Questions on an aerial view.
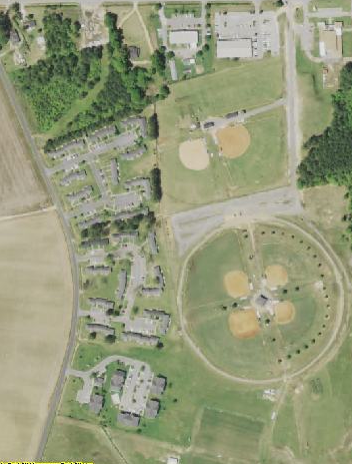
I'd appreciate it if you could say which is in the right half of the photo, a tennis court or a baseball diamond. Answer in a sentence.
Looking in the right half of the photo, you will find a baseball diamond.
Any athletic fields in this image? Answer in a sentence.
Yes, the image includes an athletic field.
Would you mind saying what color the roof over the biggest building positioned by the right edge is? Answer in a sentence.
The roof over the biggest building positioned by the right edge appears white.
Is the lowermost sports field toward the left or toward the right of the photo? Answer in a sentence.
You can find the lowermost sports field on the right side of the picture.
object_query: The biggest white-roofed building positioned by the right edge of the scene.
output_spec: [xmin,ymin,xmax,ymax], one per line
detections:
[319,23,342,53]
